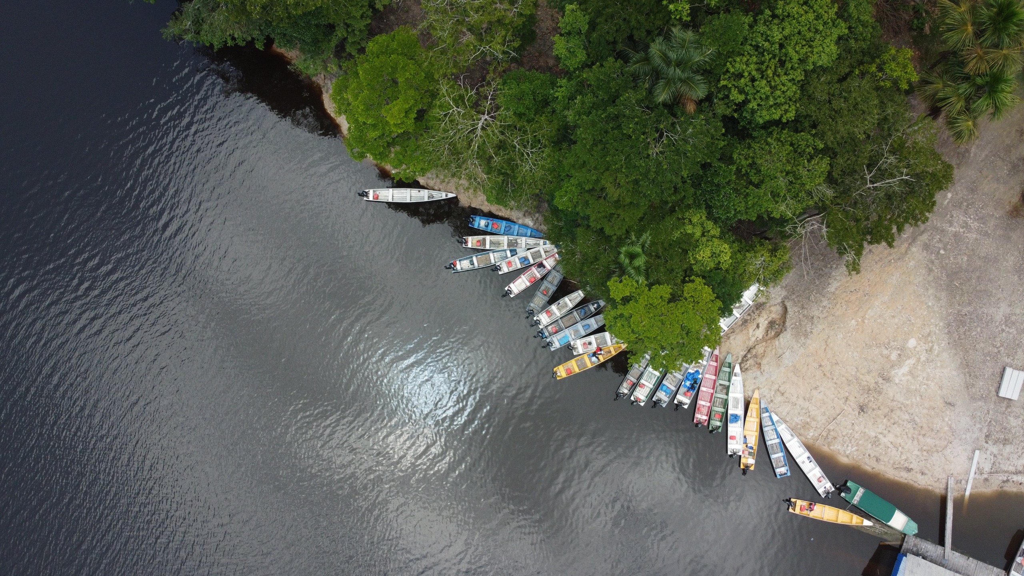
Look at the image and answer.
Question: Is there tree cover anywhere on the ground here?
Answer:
Yes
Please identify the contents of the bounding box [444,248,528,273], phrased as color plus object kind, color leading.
white boat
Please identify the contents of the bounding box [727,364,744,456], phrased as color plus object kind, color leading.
white boat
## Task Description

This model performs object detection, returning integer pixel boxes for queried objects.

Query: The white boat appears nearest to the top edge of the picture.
[357,188,457,203]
